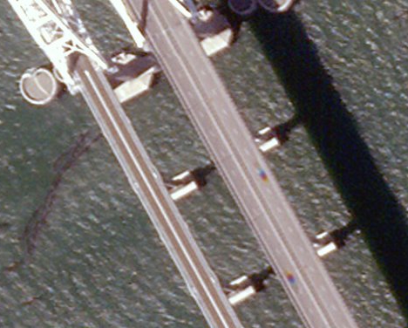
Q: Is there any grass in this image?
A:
No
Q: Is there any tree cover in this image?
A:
No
